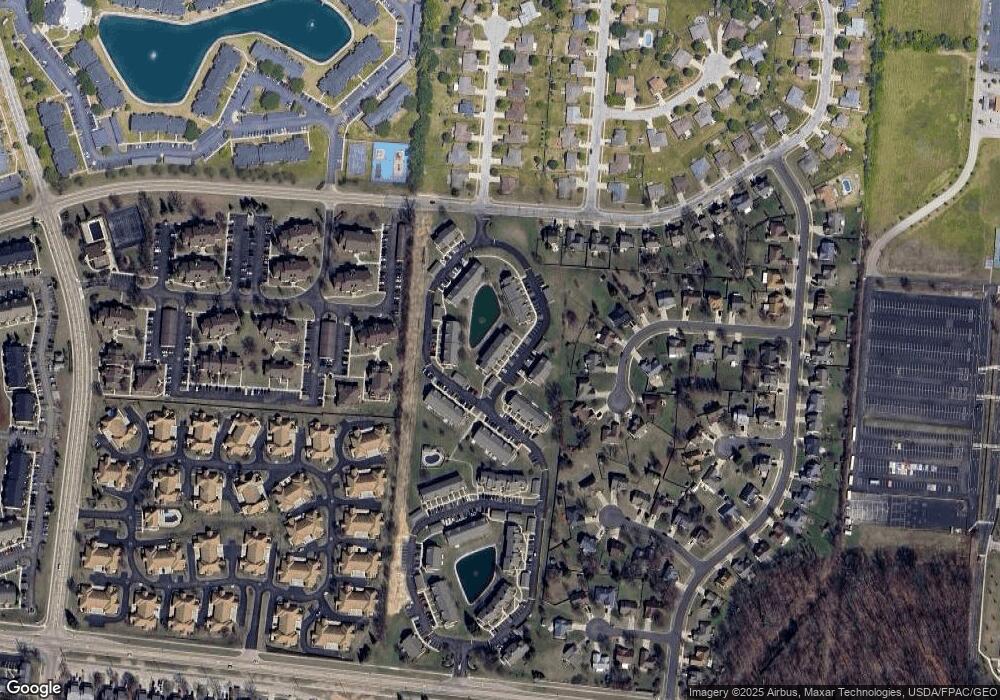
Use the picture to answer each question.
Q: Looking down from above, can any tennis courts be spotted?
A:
Yes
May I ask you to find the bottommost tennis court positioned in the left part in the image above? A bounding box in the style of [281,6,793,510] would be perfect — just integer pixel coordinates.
[107,209,145,249]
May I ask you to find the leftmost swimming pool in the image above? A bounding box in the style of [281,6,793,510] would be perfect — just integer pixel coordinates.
[85,218,107,243]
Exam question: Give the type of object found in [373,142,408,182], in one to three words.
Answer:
sports court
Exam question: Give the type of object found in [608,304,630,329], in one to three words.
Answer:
house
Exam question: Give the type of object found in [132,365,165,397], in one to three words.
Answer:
building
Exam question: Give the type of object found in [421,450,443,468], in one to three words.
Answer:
swimming pool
